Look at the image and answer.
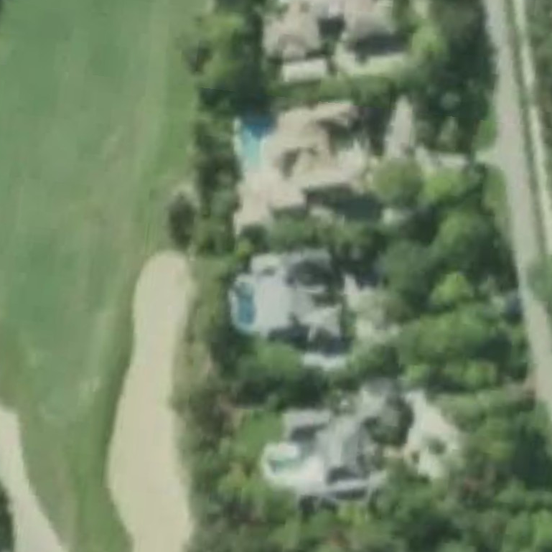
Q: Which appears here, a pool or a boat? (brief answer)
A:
pool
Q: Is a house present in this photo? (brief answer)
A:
Yes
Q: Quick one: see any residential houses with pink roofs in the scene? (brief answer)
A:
No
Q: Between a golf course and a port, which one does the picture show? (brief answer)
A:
golf course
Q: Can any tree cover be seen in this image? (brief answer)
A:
Yes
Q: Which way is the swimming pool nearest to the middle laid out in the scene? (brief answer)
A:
from top to bottom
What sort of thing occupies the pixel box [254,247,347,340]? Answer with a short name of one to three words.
house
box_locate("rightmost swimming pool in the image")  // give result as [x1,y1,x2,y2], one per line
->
[270,456,304,473]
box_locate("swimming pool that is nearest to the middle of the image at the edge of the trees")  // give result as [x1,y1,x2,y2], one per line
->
[233,277,258,329]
